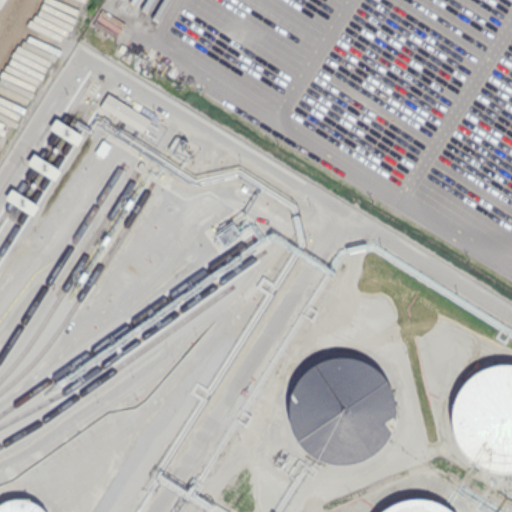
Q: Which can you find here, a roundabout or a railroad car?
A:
railroad car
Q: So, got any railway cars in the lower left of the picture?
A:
Yes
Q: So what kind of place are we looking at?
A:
industrial area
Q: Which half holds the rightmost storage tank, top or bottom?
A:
bottom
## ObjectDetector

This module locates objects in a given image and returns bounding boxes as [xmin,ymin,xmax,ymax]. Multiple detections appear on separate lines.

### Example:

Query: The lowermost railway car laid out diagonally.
[2,420,42,446]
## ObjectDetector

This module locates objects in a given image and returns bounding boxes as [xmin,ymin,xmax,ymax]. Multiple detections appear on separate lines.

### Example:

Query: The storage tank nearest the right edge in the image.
[450,362,512,478]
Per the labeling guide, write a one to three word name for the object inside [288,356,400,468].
storage tank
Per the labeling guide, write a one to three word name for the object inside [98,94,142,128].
building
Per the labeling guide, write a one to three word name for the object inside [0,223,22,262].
rail car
